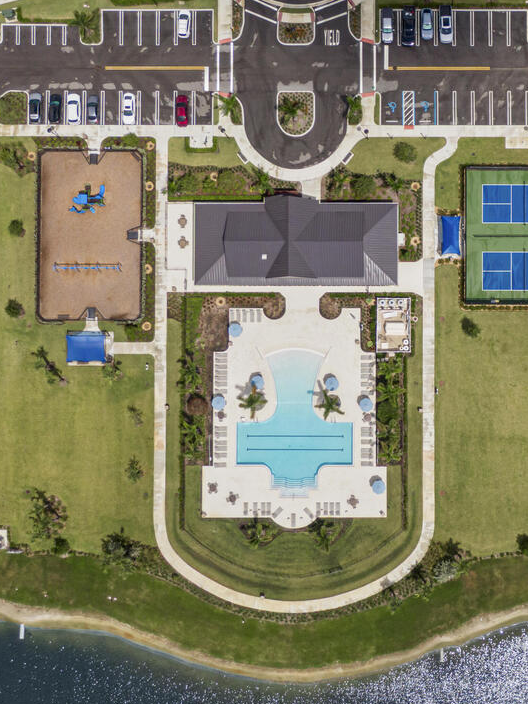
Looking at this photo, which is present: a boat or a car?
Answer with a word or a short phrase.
car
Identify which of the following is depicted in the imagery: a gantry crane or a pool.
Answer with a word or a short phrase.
pool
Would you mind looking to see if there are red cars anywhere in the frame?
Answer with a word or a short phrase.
Yes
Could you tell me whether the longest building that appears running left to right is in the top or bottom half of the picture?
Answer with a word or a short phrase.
top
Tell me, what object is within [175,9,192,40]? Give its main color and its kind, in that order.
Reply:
white car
